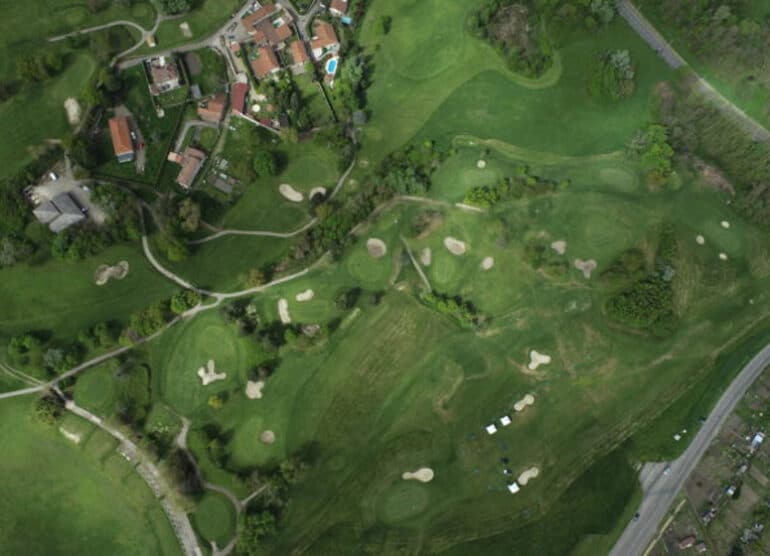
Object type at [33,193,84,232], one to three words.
building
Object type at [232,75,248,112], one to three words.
barn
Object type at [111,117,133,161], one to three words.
house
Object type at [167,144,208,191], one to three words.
house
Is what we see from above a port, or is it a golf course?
golf course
